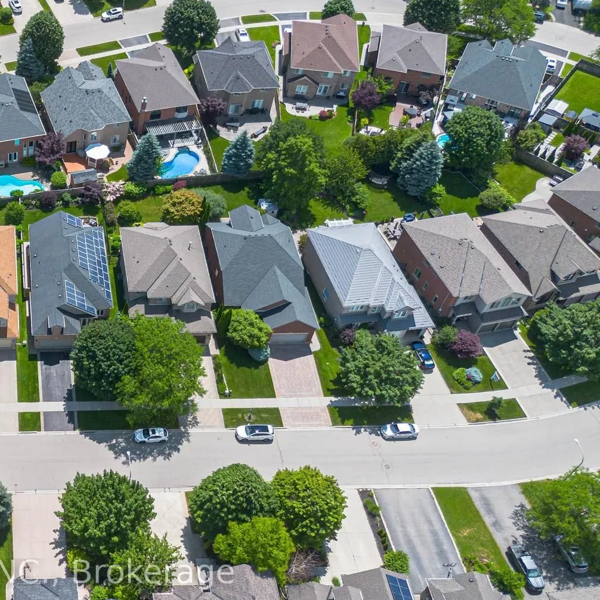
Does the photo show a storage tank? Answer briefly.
No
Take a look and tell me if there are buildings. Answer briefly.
Yes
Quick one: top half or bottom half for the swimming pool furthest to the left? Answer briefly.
top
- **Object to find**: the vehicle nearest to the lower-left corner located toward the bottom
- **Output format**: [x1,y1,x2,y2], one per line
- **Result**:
[131,426,172,446]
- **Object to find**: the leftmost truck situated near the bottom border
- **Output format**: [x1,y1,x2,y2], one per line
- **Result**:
[505,543,545,598]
